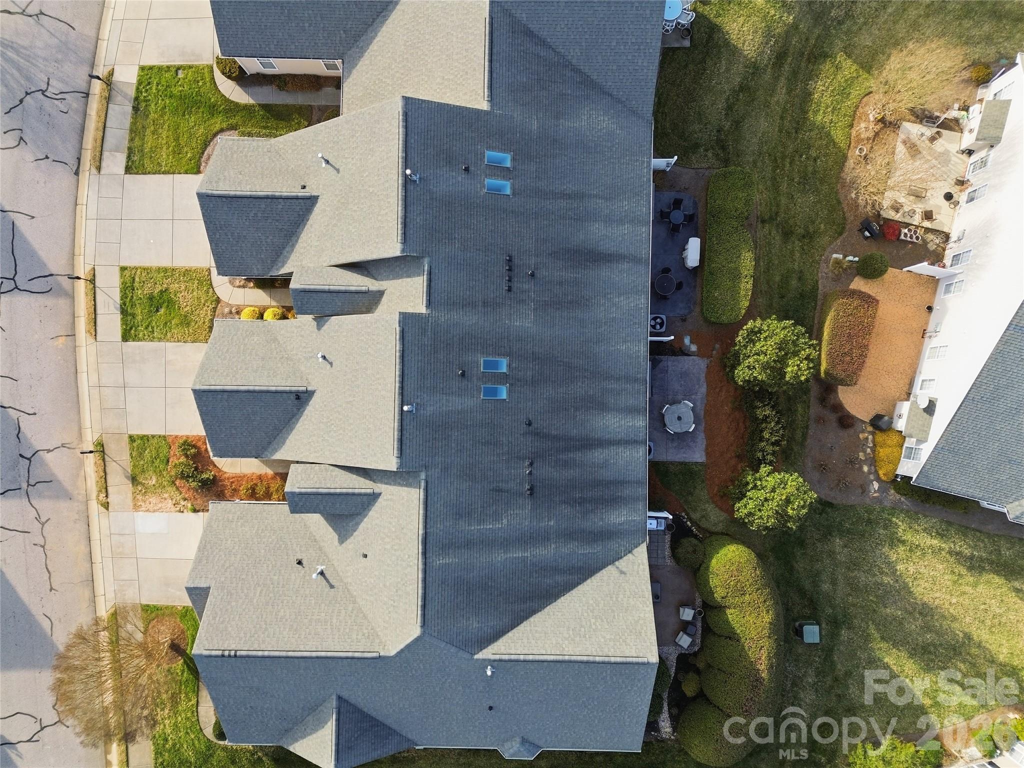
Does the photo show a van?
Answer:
No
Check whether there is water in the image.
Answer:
No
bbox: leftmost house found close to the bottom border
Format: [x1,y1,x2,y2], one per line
[186,461,660,768]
